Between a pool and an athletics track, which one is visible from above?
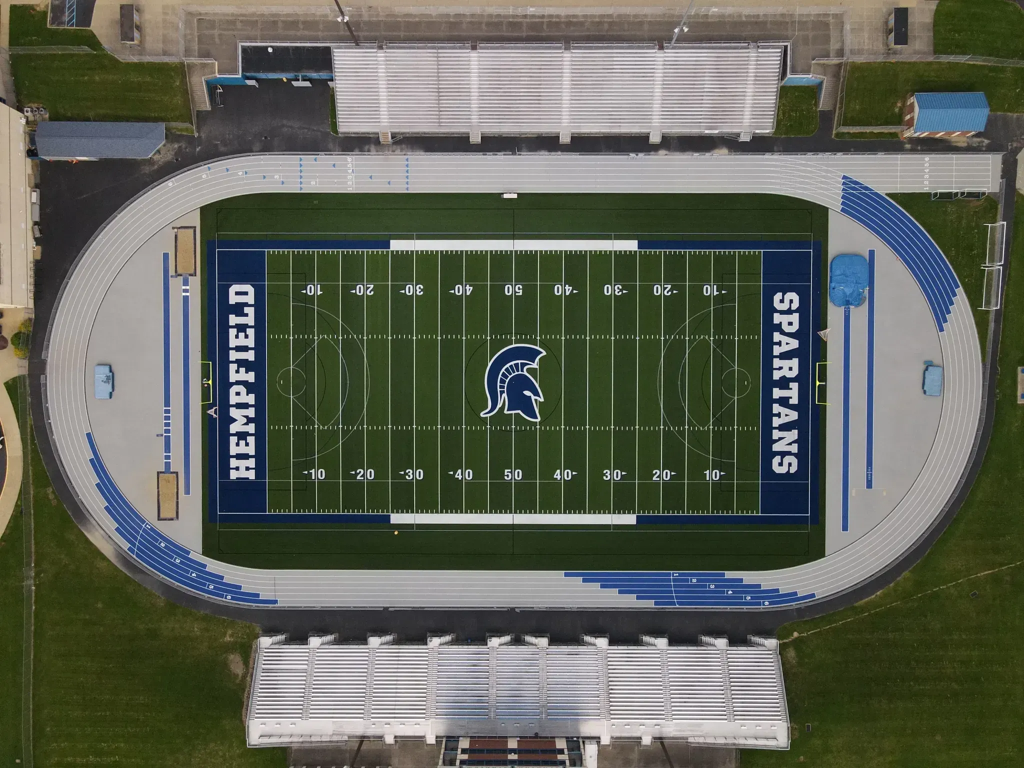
athletics track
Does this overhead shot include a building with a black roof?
Yes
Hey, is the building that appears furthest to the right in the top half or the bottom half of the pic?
top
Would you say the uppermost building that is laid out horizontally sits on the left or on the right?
left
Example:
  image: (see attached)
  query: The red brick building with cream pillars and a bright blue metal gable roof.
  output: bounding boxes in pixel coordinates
[905,92,989,137]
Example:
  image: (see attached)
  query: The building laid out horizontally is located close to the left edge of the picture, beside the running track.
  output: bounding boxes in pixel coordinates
[35,122,166,162]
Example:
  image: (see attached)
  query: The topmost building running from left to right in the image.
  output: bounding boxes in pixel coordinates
[245,46,336,80]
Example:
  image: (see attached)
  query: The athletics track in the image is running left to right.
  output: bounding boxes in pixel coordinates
[50,153,1002,606]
